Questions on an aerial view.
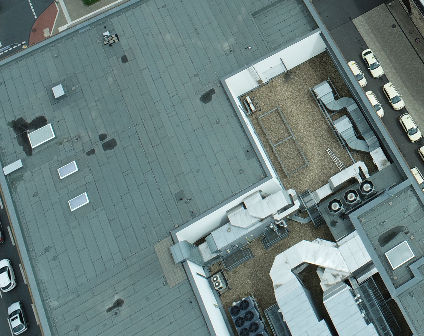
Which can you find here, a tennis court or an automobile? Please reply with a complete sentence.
It is an automobile that can be seen here.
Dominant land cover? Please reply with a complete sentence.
Most of the picture is covered by buildings.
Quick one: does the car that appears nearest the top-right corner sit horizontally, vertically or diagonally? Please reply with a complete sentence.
In this picture, the car that appears nearest the top-right corner lies diagonally.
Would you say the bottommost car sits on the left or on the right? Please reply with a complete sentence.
The bottommost car is on the left side of the image.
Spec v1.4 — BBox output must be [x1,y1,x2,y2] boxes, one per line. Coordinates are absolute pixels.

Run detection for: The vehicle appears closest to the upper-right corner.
[361,50,384,78]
